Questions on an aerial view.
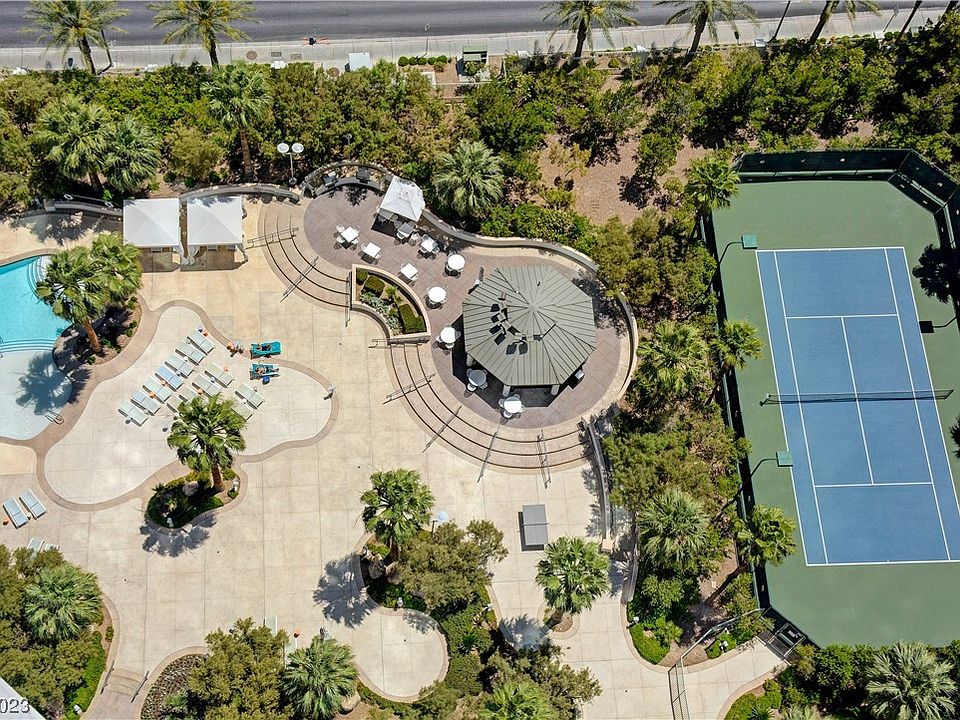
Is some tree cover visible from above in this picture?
Yes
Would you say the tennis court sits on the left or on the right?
right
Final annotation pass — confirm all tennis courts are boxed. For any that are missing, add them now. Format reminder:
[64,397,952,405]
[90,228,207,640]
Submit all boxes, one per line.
[695,171,960,673]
